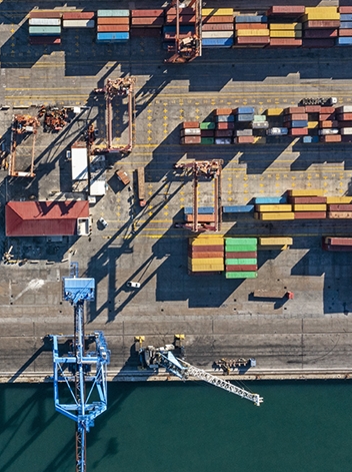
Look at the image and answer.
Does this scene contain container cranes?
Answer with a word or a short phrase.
Yes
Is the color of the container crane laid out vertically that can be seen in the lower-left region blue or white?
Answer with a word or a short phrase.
blue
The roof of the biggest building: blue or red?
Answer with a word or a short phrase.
red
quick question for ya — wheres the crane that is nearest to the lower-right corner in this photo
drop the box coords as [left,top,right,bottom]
[136,335,263,405]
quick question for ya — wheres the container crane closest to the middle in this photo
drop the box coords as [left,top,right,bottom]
[171,157,221,229]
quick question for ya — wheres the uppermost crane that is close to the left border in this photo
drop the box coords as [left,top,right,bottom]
[1,113,40,181]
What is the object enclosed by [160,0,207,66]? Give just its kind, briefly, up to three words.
container crane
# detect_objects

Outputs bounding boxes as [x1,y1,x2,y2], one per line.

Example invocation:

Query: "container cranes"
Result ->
[91,74,135,153]
[160,0,207,66]
[171,157,221,229]
[50,252,112,472]
[1,113,40,181]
